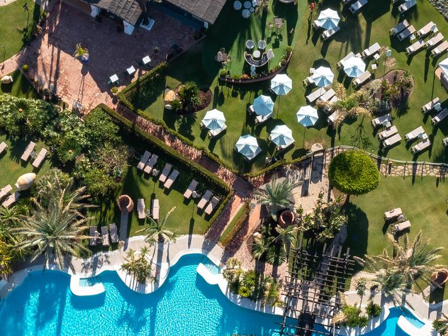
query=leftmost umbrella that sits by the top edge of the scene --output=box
[318,9,339,32]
